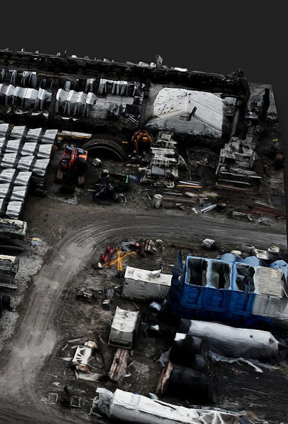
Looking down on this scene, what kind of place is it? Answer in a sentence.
The area seen from above is an industrial area.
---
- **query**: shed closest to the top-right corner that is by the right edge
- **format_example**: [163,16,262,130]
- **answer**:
[249,89,286,124]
